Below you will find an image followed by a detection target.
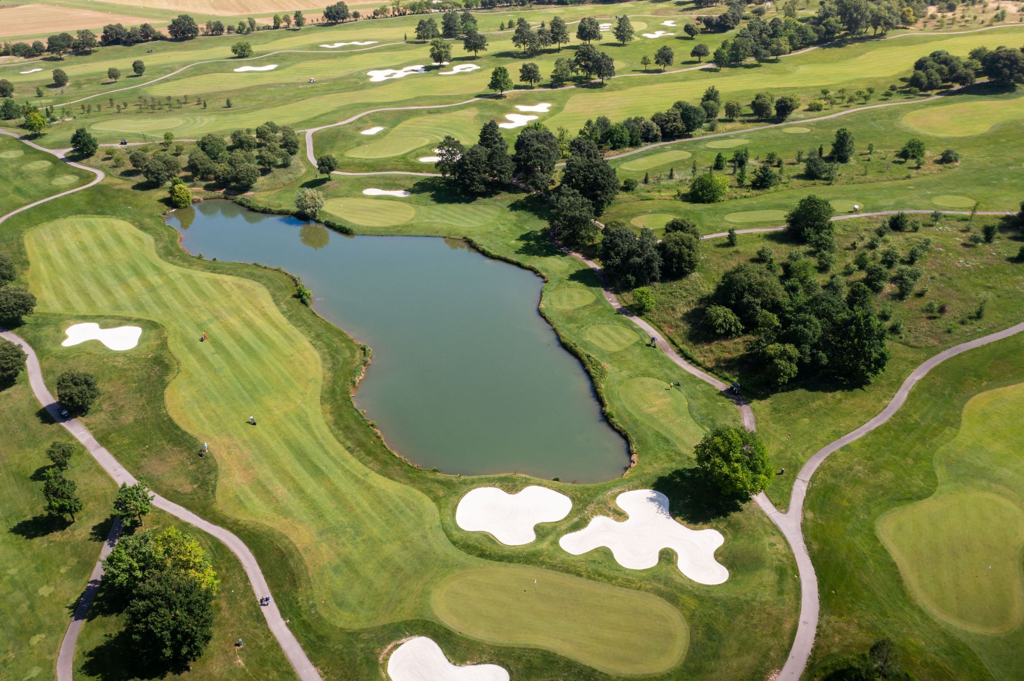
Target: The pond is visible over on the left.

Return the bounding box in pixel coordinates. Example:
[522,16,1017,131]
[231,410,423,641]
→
[165,199,631,485]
